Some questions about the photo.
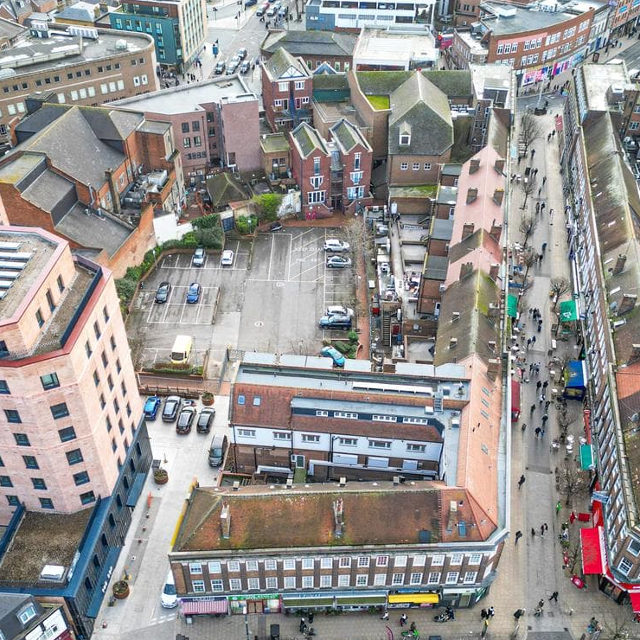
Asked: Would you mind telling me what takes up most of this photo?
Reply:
buildings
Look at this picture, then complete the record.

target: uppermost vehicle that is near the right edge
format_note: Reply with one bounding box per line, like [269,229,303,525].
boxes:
[627,65,640,78]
